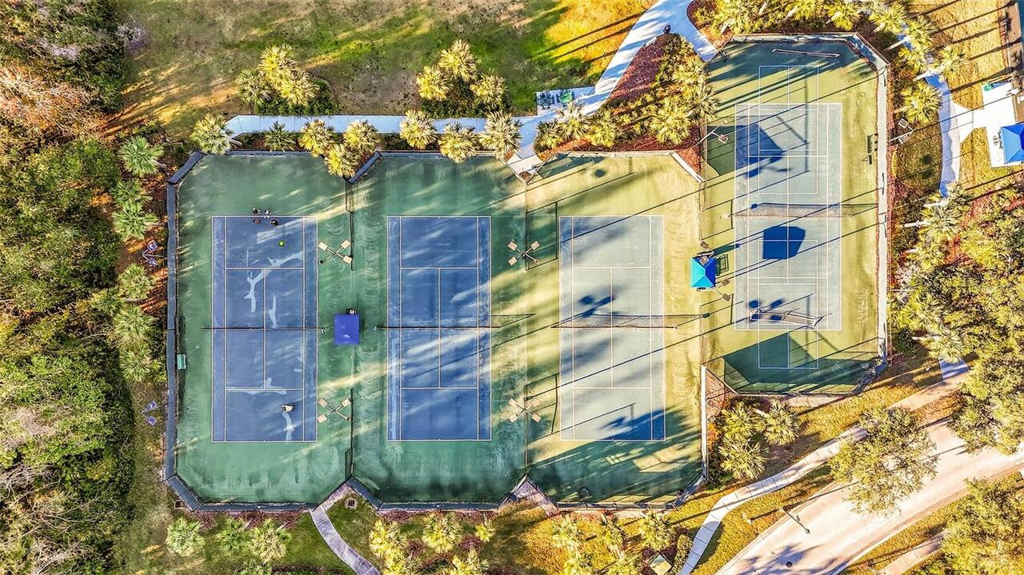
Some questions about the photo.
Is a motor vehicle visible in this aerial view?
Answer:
No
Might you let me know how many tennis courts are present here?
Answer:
four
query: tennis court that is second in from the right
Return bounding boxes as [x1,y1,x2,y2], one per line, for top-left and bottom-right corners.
[526,154,703,505]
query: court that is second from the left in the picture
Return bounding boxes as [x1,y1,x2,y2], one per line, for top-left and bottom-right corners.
[350,156,526,504]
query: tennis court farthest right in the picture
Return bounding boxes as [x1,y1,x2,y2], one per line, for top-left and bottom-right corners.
[703,41,878,394]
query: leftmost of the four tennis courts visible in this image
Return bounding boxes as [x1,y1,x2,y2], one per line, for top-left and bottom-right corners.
[178,156,350,504]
